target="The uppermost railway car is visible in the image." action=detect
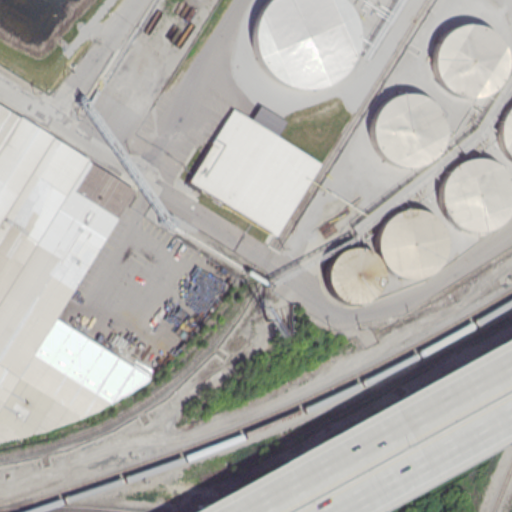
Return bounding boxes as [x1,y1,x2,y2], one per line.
[472,298,512,329]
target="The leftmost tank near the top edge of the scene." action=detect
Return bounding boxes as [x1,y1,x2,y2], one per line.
[252,0,364,92]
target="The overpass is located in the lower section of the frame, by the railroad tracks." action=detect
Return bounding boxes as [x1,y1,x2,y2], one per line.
[198,338,512,512]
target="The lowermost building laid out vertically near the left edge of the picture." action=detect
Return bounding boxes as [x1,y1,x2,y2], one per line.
[0,104,154,444]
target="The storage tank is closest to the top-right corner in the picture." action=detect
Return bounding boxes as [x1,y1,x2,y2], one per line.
[432,24,512,101]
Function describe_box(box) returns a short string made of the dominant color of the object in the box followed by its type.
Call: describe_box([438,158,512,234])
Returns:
white storage tank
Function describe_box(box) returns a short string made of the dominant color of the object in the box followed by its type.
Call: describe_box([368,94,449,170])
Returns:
white storage tank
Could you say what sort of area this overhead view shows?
industrial area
